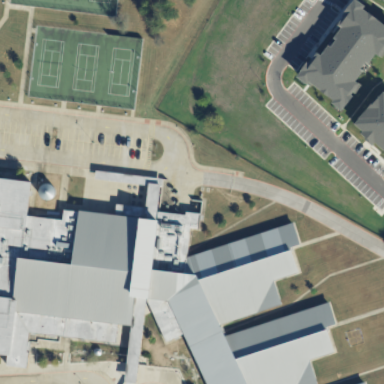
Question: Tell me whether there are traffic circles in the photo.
No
